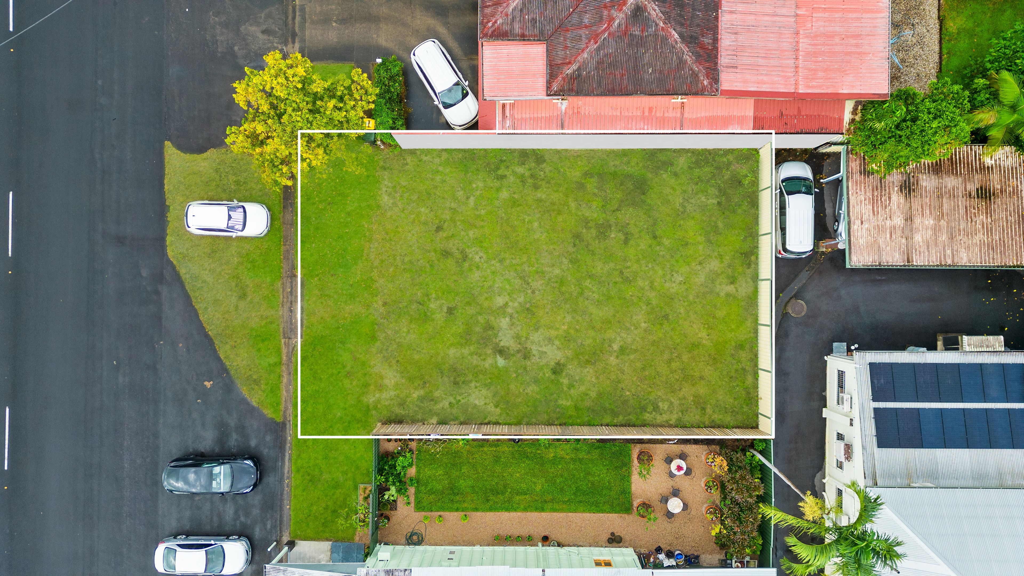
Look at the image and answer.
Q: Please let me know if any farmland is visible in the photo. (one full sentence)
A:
No, there is no farmland in the image.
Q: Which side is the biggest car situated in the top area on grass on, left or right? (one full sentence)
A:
The biggest car situated in the top area on grass sits on the left side.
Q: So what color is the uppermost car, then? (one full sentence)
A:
The uppermost car is white.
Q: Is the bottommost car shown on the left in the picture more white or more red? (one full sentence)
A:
The bottommost car shown on the left is white.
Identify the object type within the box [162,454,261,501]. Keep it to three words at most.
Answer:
car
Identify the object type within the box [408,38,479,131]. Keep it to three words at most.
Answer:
car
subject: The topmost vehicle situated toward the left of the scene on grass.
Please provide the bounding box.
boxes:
[183,195,271,241]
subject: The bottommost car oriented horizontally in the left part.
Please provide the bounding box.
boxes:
[154,534,253,576]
